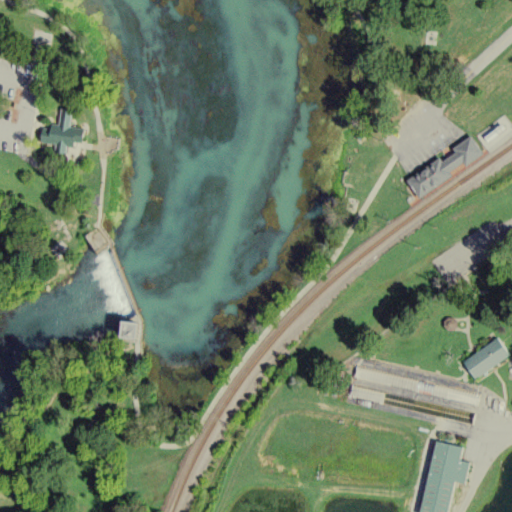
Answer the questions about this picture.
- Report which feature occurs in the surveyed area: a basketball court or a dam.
dam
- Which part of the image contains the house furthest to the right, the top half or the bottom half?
bottom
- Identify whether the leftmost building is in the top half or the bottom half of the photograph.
top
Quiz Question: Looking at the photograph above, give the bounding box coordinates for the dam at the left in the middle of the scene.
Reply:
[59,243,145,350]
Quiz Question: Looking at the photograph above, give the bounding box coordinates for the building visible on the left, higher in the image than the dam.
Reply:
[40,110,82,154]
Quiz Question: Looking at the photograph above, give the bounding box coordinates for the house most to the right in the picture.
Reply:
[466,340,509,378]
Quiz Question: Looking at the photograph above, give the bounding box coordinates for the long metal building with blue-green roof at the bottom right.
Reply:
[421,440,468,512]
